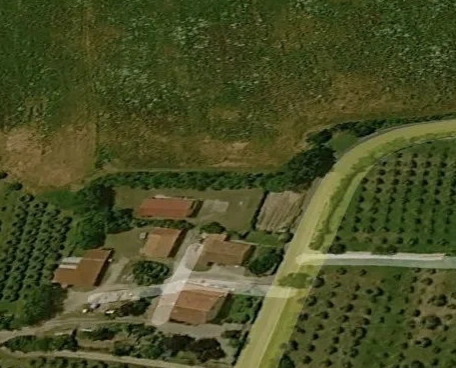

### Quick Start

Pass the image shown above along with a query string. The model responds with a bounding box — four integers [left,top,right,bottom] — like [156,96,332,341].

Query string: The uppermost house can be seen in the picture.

[135,198,194,221]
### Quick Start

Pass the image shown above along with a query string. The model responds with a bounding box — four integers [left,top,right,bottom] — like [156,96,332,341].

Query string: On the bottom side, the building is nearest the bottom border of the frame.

[168,288,225,328]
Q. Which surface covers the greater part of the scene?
grass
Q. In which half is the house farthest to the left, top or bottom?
bottom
